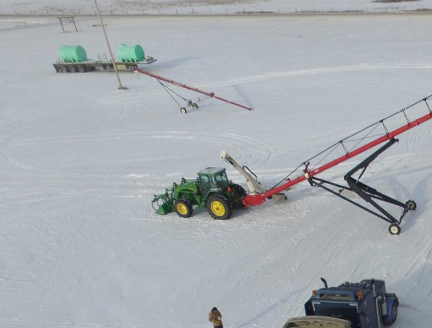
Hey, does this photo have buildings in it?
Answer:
No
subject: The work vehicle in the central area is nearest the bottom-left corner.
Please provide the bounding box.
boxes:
[153,170,241,219]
